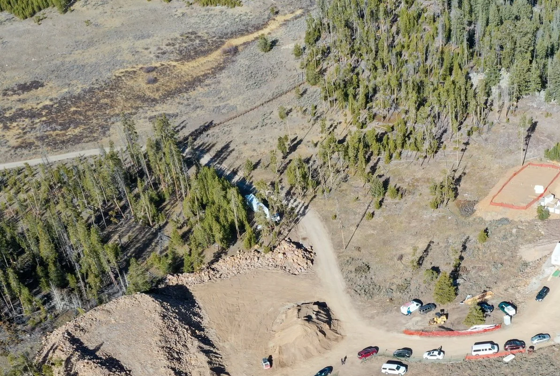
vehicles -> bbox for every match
[423,351,444,361]
[418,301,437,314]
[530,335,552,345]
[496,298,519,316]
[393,348,412,358]
[381,365,409,376]
[476,297,496,312]
[427,311,449,324]
[357,345,379,359]
[504,342,527,352]
[472,344,499,357]
[400,297,424,314]
[536,284,551,299]
[311,365,333,376]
